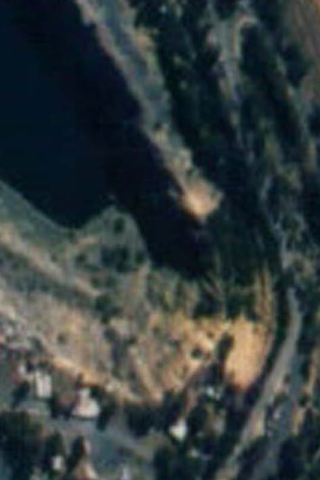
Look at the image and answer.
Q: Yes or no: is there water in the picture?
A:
Yes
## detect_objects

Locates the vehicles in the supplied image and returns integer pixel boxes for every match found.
[123,471,128,480]
[272,409,279,419]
